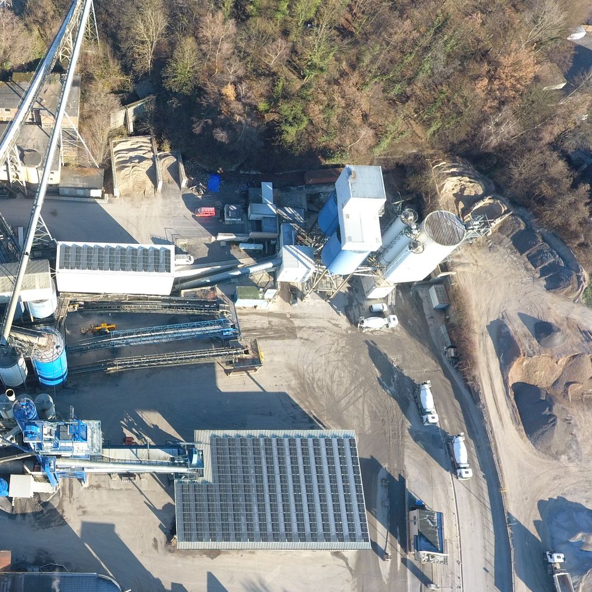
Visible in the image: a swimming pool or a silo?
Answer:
silo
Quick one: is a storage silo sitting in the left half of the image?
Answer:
Yes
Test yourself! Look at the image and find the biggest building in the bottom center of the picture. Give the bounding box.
[173,431,372,551]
